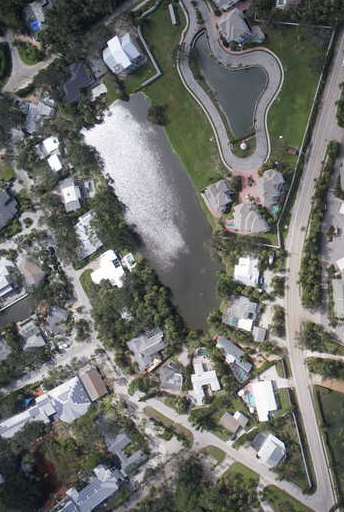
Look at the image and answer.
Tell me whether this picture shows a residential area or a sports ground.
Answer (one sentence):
This image shows a residential area.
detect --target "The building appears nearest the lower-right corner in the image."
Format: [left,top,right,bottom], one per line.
[251,432,286,465]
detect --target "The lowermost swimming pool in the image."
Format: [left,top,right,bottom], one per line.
[240,383,256,413]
